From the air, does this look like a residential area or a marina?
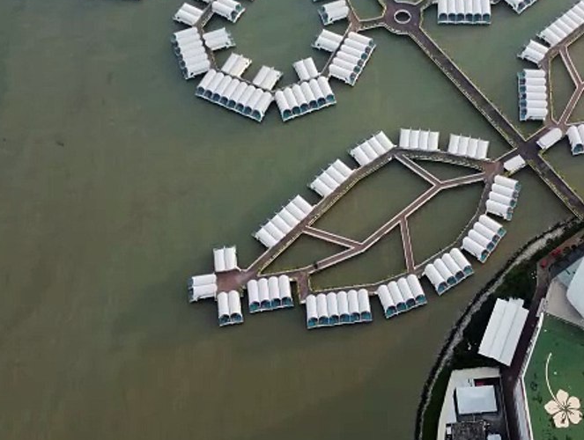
residential area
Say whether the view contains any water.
Yes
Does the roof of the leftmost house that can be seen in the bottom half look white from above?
Yes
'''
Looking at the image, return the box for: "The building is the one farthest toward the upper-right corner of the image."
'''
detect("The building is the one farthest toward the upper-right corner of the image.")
[536,0,584,49]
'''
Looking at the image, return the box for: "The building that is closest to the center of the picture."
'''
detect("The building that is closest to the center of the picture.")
[250,193,314,253]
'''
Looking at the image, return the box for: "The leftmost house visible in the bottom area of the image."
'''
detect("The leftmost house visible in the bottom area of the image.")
[187,275,218,301]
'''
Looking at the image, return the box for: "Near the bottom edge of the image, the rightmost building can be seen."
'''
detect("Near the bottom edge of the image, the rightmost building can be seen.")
[515,312,584,440]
